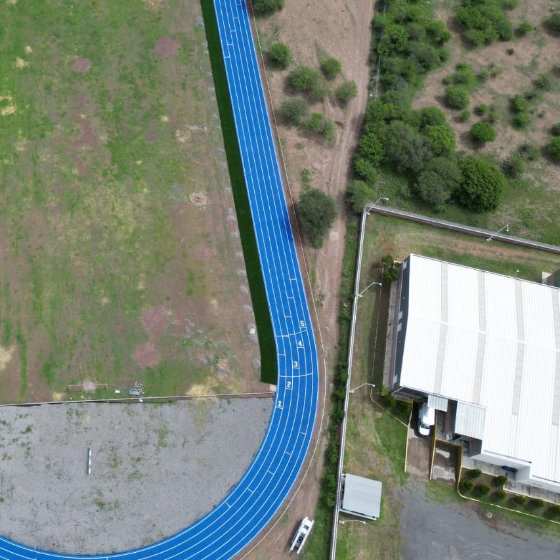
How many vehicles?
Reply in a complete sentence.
Looking from above, you can make out 2 vehicles.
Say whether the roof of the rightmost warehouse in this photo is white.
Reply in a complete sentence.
Yes, the roof of the rightmost warehouse is white.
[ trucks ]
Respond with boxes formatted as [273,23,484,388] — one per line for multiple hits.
[293,516,320,554]
[419,398,442,435]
